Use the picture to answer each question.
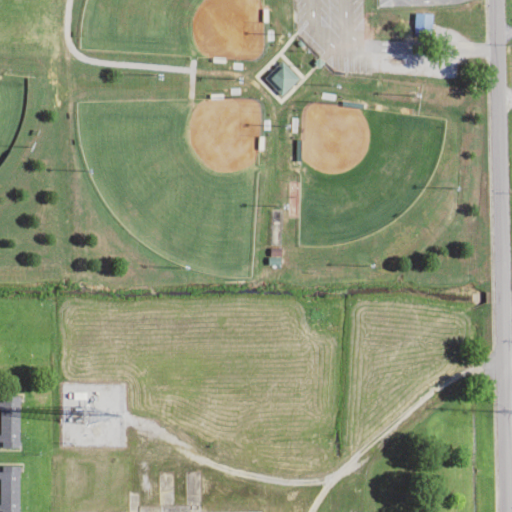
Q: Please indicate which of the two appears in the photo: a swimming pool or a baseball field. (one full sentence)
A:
Of the two, only a baseball field appears.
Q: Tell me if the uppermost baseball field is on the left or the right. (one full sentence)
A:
The uppermost baseball field sits on the left side.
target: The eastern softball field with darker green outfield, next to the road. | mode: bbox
[299,102,447,248]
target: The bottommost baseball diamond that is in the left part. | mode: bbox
[76,98,265,280]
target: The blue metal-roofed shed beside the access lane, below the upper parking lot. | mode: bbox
[414,13,434,34]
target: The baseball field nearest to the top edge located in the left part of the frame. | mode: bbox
[80,0,268,61]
